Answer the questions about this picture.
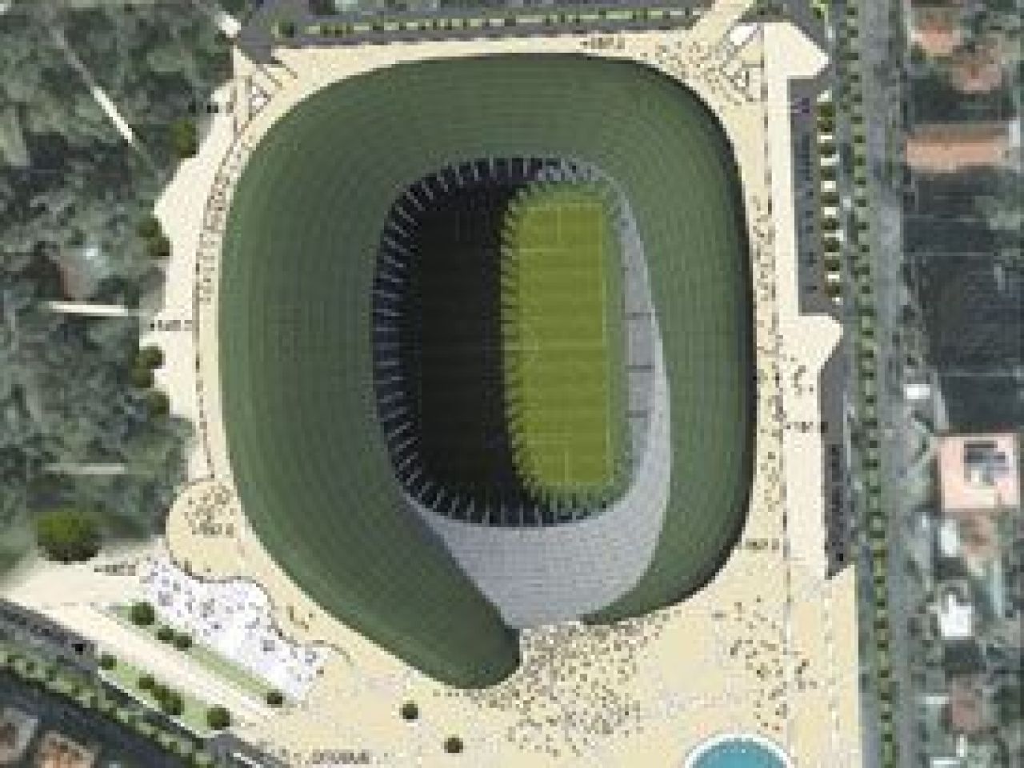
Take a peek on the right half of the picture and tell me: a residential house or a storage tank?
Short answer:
residential house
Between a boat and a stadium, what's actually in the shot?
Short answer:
stadium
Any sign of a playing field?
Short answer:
Yes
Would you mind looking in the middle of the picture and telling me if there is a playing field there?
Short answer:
Yes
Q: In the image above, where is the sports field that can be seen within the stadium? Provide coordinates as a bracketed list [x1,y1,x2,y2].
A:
[422,204,614,483]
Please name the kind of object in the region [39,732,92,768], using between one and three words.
house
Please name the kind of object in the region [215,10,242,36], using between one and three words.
building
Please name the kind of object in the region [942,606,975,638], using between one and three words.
house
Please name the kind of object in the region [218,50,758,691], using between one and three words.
stadium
